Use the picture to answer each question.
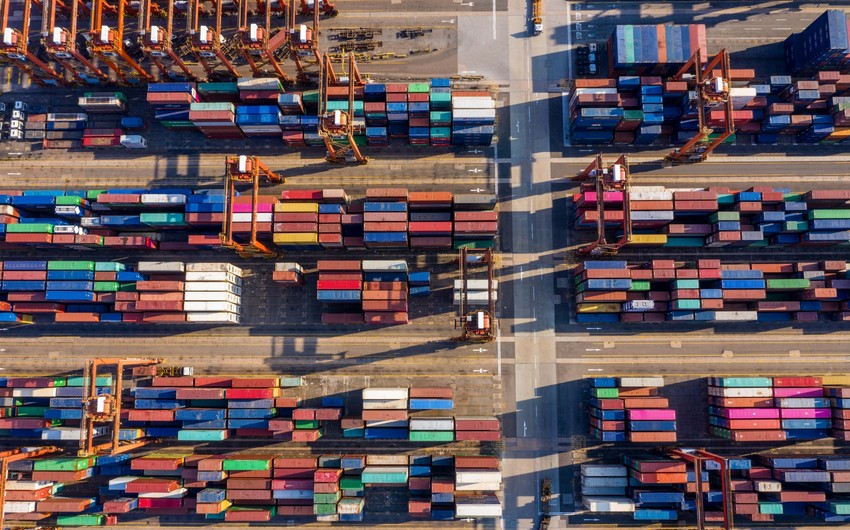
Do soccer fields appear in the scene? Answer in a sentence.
No, I can't see a single soccer field in this photo.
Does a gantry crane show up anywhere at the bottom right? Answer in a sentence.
Yes, a gantry crane appears at the bottom right.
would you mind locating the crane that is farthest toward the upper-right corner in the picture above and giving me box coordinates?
[662,50,731,157]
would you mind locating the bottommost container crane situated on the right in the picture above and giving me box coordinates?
[659,446,733,530]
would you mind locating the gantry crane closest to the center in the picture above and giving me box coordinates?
[453,247,496,346]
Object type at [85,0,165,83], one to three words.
container crane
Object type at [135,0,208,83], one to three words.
container crane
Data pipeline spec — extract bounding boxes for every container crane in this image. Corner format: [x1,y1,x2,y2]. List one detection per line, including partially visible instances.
[234,0,296,83]
[81,356,168,456]
[0,444,68,530]
[85,0,165,83]
[453,247,496,346]
[0,0,76,83]
[221,154,286,255]
[184,0,252,83]
[574,151,632,253]
[662,50,731,157]
[39,0,120,83]
[316,51,369,159]
[659,446,733,530]
[283,0,339,83]
[135,0,208,83]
